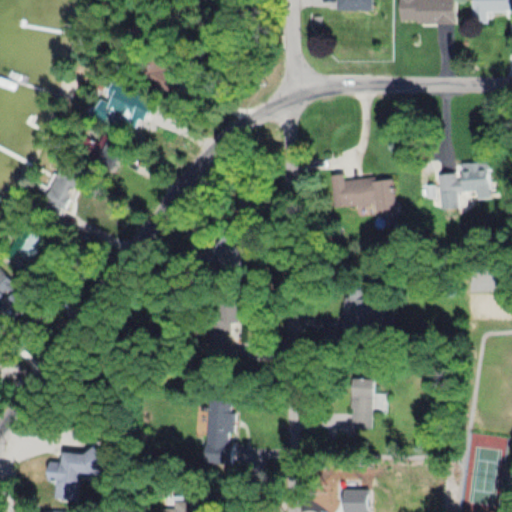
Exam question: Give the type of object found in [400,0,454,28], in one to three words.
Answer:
house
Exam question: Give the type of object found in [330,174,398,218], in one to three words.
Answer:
house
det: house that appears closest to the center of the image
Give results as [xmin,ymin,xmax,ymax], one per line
[214,300,238,328]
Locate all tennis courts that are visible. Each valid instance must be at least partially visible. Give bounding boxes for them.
[464,434,508,512]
